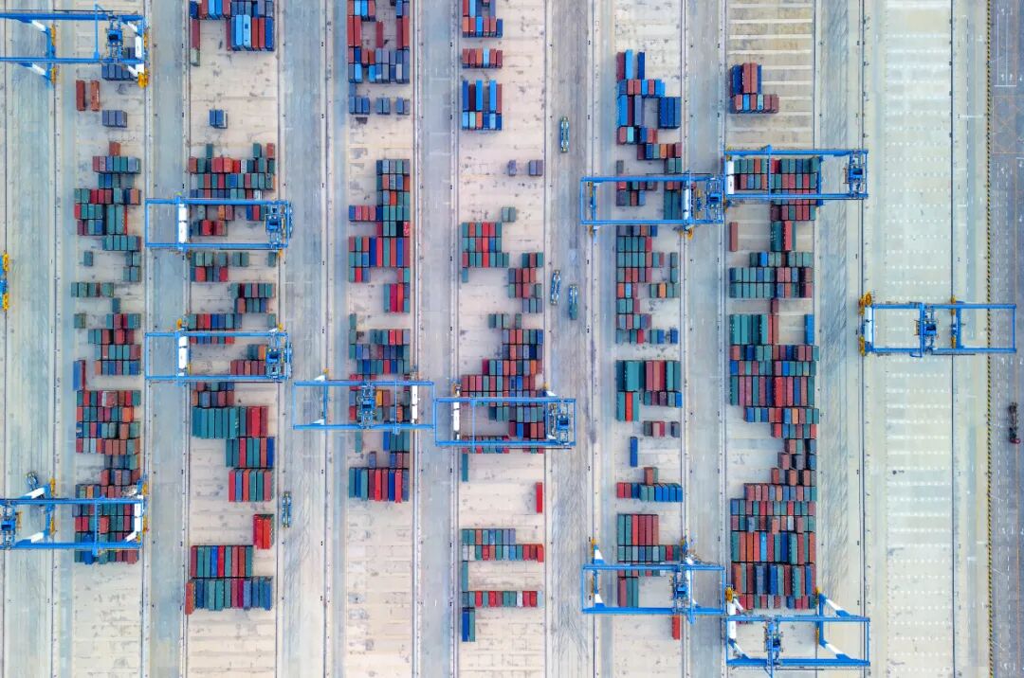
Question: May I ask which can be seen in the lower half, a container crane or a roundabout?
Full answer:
It is a container crane that can be seen in the lower half.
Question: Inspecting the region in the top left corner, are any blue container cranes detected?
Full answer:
Yes, the scene does show a blue container crane in the top left corner.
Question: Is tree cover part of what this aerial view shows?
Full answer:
No, the scene doesn't show any tree cover.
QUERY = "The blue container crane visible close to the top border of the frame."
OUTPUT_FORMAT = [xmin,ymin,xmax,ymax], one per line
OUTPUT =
[0,2,149,95]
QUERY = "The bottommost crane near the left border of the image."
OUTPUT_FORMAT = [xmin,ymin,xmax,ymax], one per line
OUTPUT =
[0,481,148,552]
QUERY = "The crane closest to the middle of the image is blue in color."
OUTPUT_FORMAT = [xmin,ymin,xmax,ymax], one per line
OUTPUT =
[434,386,576,449]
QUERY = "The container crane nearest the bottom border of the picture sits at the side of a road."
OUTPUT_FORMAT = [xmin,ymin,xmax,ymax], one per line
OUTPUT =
[724,584,868,678]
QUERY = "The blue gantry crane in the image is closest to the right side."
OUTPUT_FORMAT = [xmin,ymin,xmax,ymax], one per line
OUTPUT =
[861,291,1017,358]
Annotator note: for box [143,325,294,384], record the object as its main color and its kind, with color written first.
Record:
blue container crane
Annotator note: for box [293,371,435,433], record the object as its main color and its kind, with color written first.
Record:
blue container crane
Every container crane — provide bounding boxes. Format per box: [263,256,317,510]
[723,144,867,215]
[0,481,148,552]
[724,584,868,678]
[581,541,724,623]
[143,196,289,261]
[581,171,724,247]
[861,291,1017,358]
[434,386,576,449]
[0,2,149,95]
[293,371,435,433]
[143,325,294,384]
